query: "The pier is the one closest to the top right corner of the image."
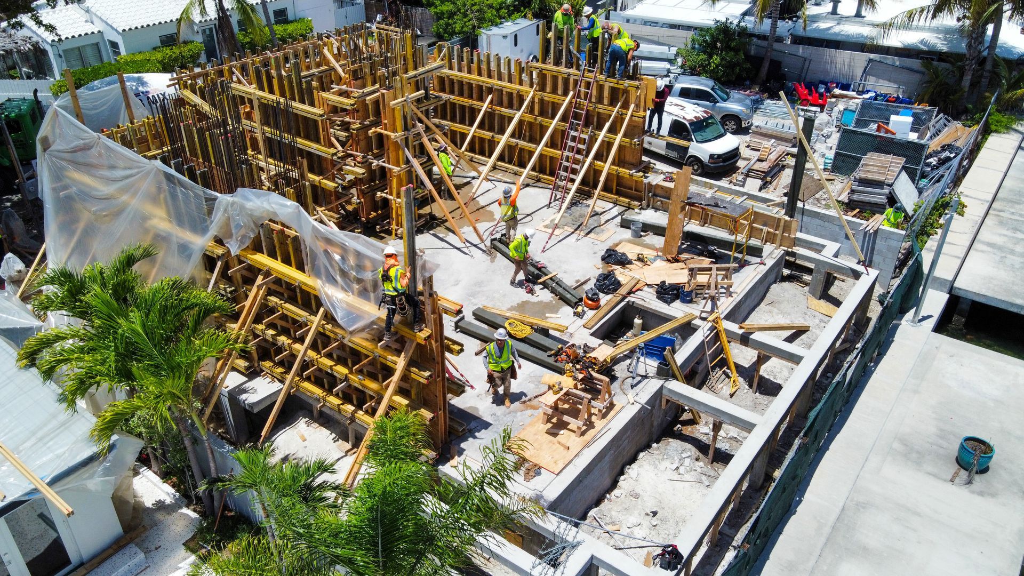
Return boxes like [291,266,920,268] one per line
[948,141,1024,323]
